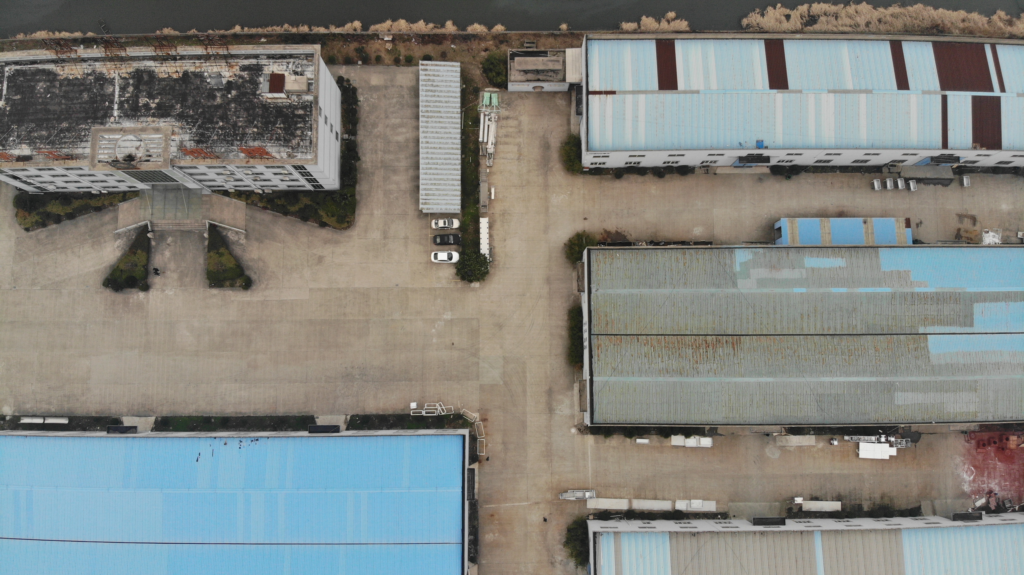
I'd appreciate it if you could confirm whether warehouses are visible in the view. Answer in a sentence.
Yes, there is a warehouse in the image.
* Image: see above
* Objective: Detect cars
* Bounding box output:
[431,218,460,231]
[433,233,461,246]
[431,250,459,263]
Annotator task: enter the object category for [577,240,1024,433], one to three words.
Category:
warehouse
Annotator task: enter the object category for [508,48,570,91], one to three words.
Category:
building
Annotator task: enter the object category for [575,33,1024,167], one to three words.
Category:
warehouse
